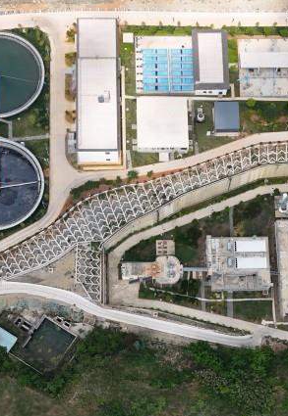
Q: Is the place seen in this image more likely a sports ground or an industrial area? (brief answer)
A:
industrial area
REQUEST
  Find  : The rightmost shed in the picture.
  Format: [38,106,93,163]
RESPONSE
[213,100,240,138]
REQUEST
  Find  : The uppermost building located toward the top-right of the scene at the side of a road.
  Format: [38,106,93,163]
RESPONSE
[193,28,230,97]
